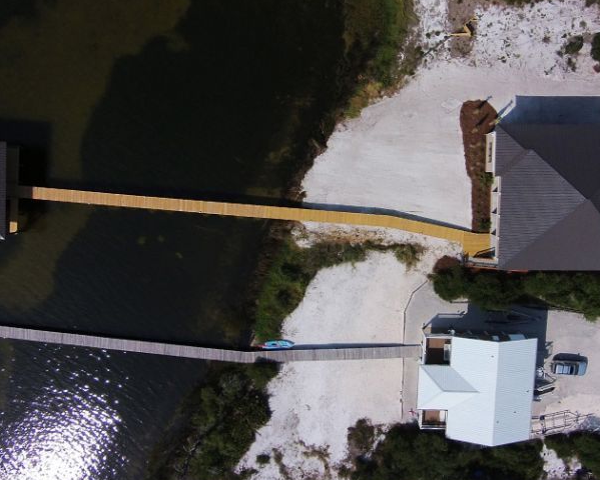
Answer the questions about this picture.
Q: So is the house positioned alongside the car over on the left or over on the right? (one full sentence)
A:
It is on the right.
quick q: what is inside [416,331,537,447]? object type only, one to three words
house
